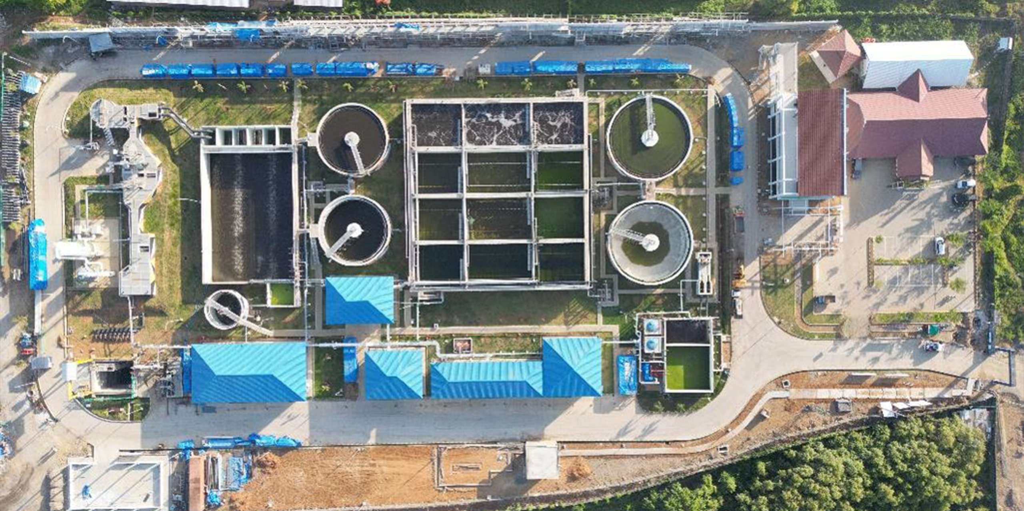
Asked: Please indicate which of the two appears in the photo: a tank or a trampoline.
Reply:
tank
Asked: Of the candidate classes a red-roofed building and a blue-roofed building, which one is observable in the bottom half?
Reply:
blue-roofed building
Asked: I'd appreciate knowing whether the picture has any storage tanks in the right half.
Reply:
Yes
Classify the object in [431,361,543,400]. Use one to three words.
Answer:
building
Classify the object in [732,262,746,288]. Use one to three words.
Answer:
vehicle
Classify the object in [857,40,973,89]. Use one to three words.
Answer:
shed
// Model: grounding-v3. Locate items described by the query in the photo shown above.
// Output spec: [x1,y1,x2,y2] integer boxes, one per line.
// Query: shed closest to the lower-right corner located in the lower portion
[961,407,993,440]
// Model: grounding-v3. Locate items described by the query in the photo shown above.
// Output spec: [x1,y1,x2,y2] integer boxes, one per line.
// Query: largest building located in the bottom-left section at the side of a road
[191,342,309,403]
